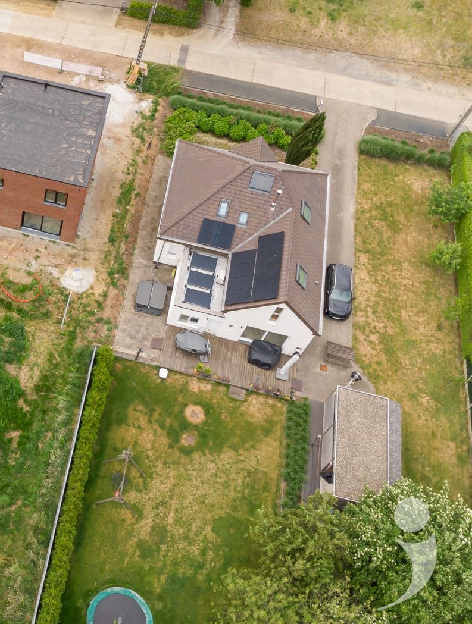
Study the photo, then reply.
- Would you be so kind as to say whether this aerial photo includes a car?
Yes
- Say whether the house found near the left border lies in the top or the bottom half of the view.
top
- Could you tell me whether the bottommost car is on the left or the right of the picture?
right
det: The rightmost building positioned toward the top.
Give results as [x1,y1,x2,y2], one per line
[154,132,327,355]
